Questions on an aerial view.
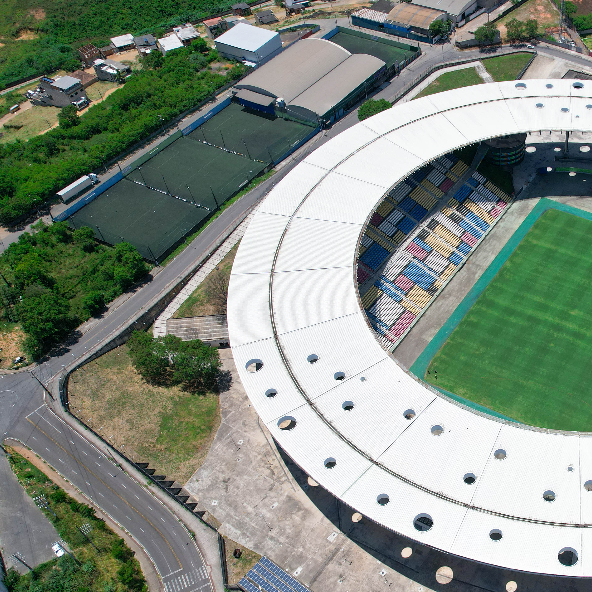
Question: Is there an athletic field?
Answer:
Yes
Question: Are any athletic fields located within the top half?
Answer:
Yes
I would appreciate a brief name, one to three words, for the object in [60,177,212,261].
sports field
